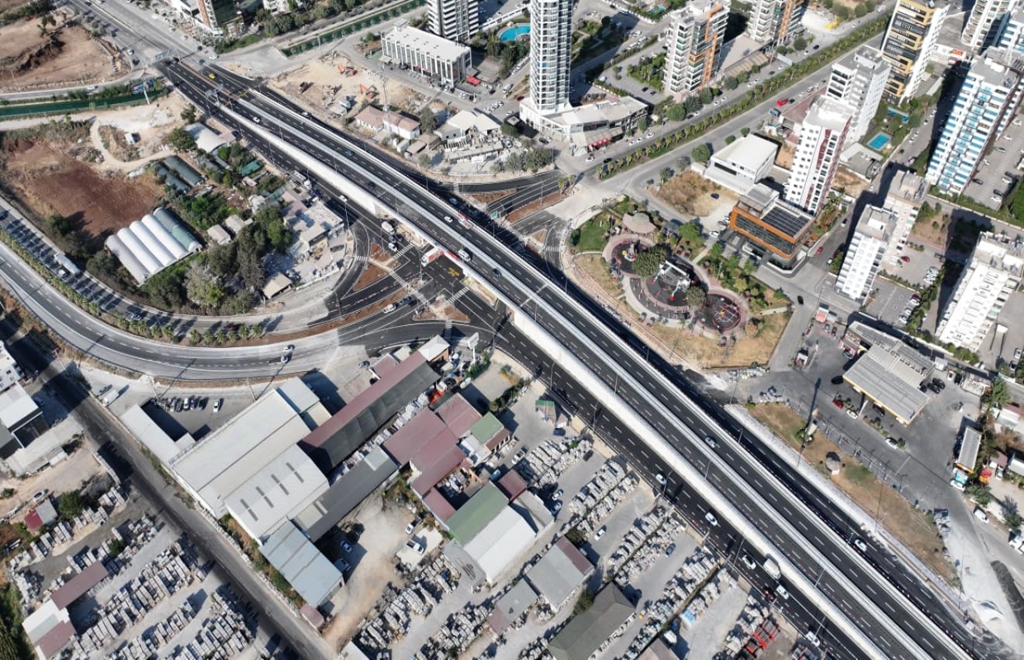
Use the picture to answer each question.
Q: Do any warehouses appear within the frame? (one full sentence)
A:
Yes, I can see a warehouse in this picture.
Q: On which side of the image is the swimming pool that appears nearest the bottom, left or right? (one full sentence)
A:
It is on the right.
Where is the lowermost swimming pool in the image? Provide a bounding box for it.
[864,129,894,151]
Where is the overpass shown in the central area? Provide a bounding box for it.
[219,89,974,660]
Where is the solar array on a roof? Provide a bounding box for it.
[758,202,810,238]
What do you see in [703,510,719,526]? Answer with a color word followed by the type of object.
white car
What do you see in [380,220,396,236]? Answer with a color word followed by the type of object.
white vehicle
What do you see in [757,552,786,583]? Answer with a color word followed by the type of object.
white truck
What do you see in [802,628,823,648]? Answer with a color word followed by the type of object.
white vehicle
